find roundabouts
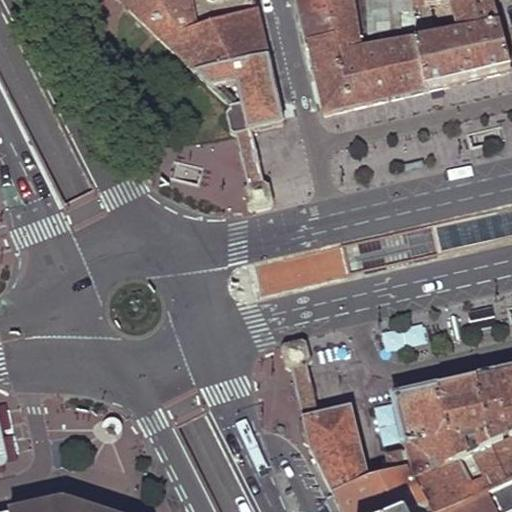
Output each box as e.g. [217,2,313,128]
[107,280,164,337]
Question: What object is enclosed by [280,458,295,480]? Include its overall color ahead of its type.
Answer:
white car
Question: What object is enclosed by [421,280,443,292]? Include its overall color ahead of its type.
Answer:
white vehicle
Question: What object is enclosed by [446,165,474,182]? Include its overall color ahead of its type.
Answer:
white vehicle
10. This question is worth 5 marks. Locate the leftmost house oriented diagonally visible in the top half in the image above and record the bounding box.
[122,0,228,66]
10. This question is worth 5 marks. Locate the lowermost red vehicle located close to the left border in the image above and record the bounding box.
[16,176,32,199]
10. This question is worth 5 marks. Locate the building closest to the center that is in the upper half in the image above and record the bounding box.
[247,180,273,213]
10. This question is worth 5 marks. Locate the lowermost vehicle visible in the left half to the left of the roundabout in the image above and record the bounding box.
[72,277,93,292]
